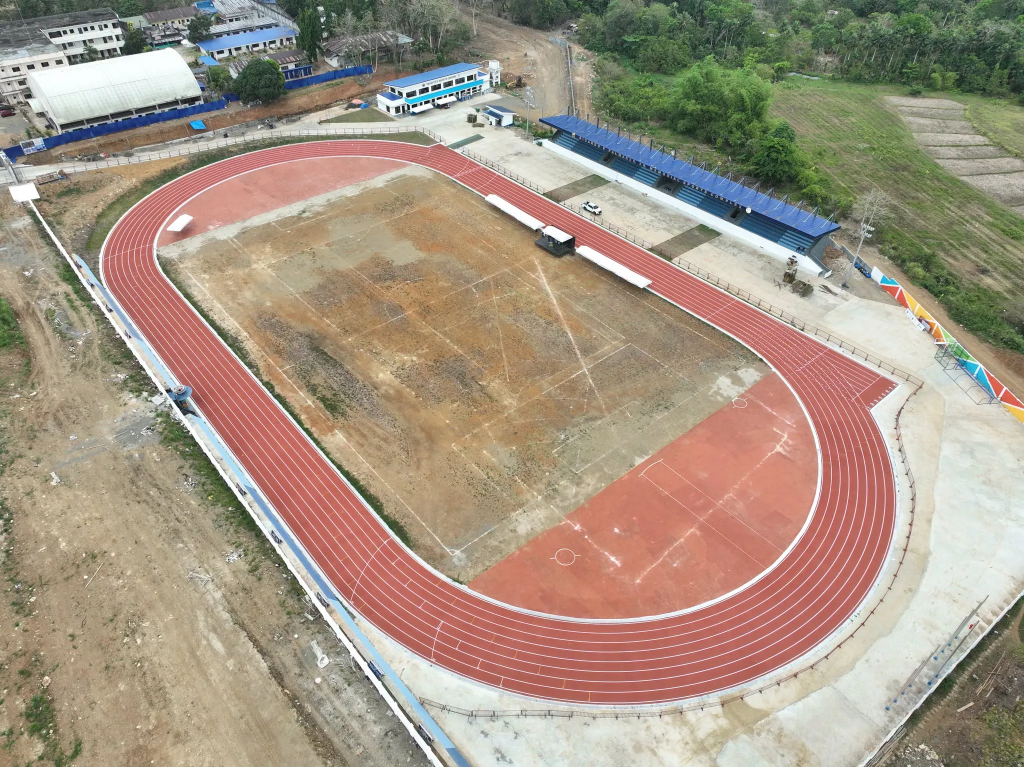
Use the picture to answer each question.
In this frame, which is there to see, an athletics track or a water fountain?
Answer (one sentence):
I can see an athletics track in this picture.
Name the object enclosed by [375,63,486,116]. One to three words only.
building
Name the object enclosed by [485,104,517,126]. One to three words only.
shed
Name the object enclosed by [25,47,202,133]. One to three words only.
building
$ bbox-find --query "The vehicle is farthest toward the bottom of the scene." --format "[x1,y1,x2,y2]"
[582,200,604,214]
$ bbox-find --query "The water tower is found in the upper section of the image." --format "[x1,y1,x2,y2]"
[467,57,503,87]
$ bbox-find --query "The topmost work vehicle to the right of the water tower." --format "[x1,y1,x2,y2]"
[504,74,529,88]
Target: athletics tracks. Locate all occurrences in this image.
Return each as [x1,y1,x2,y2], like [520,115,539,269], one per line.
[101,140,899,705]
